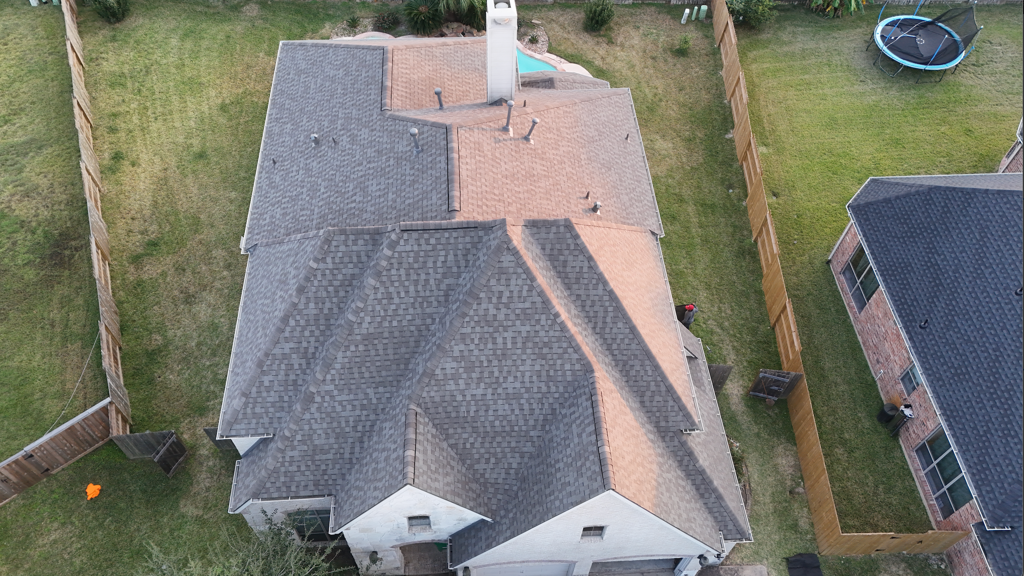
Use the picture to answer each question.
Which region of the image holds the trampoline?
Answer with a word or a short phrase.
top right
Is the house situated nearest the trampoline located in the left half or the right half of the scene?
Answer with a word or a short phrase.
right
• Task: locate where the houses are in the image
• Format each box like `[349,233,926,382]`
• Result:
[817,122,1024,576]
[218,0,751,576]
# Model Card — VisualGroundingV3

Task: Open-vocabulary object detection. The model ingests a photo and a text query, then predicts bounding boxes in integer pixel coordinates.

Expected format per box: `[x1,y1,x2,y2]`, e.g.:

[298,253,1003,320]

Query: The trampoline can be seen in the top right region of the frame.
[869,0,983,85]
